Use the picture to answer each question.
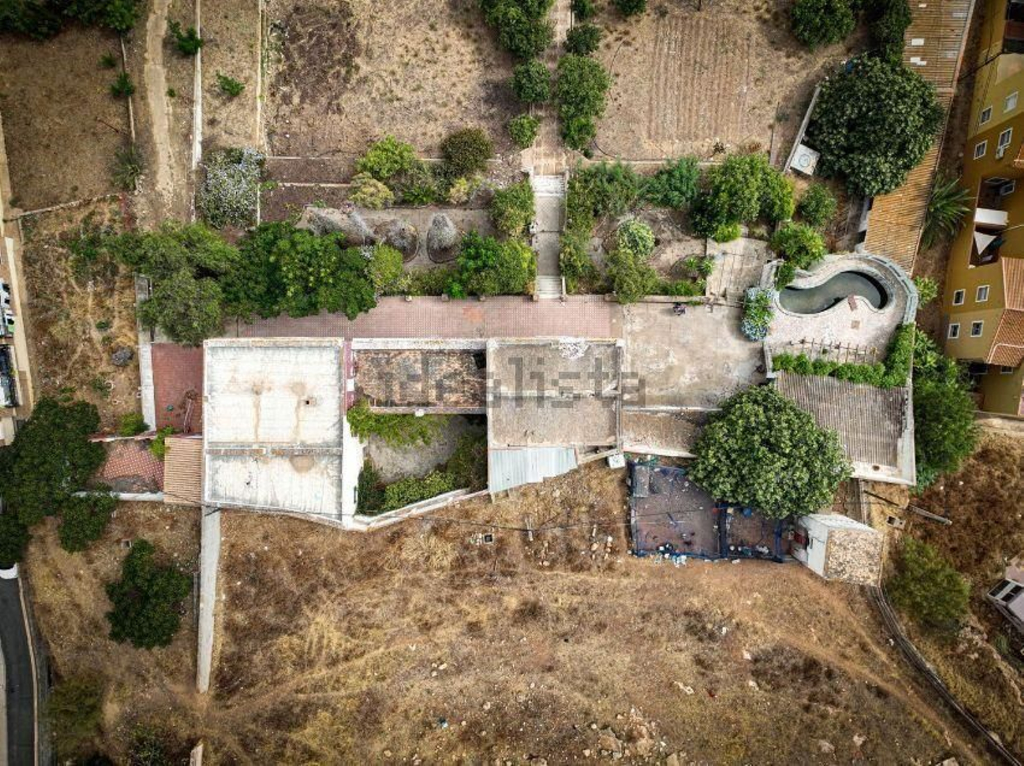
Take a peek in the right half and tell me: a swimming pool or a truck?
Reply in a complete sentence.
You can see a swimming pool in the right half.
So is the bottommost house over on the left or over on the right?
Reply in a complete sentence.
You can find the bottommost house on the right side of the picture.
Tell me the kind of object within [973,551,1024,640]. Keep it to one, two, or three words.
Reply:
house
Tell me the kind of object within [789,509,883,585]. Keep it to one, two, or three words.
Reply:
shed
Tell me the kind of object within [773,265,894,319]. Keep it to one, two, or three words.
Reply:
swimming pool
